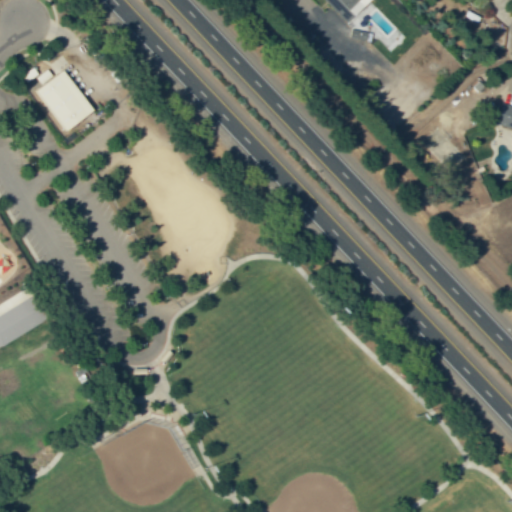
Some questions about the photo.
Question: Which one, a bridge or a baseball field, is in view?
baseball field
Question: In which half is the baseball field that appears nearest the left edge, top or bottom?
bottom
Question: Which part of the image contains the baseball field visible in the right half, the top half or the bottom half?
bottom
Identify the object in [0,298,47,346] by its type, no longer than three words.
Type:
building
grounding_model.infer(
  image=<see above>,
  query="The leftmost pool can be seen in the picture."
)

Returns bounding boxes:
[373,12,394,35]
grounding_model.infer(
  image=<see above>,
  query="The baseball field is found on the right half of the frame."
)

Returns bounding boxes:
[164,258,464,512]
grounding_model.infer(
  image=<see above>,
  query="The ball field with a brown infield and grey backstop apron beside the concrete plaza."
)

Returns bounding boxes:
[0,416,245,512]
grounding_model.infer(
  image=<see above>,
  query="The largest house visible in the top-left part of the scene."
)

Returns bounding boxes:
[35,71,95,132]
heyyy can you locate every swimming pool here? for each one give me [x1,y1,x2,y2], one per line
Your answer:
[495,144,512,171]
[373,12,394,35]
